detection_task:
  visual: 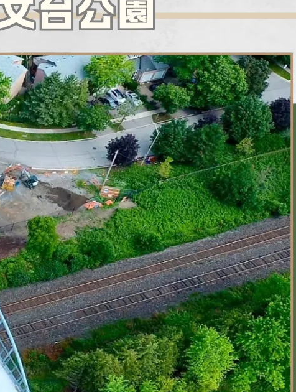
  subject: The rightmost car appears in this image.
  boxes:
[143,78,163,92]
